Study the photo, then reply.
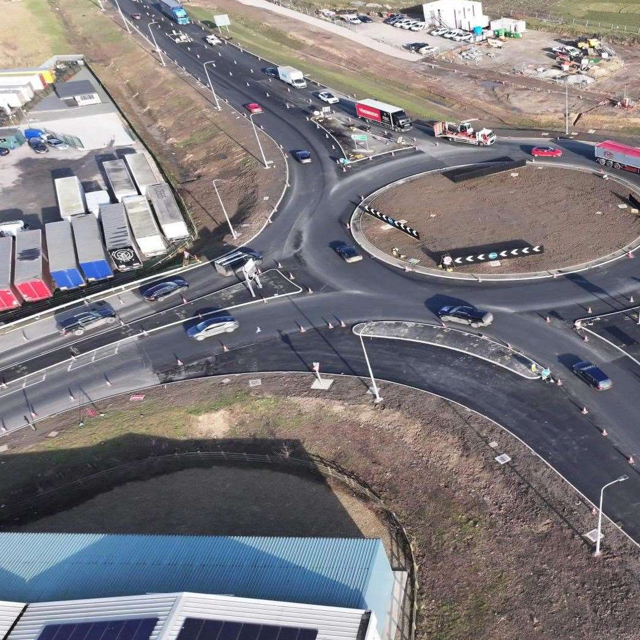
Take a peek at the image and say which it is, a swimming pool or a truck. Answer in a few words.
truck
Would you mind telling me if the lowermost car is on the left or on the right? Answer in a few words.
right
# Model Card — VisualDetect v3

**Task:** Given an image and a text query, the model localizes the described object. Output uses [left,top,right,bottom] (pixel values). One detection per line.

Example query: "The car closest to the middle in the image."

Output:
[332,240,363,261]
